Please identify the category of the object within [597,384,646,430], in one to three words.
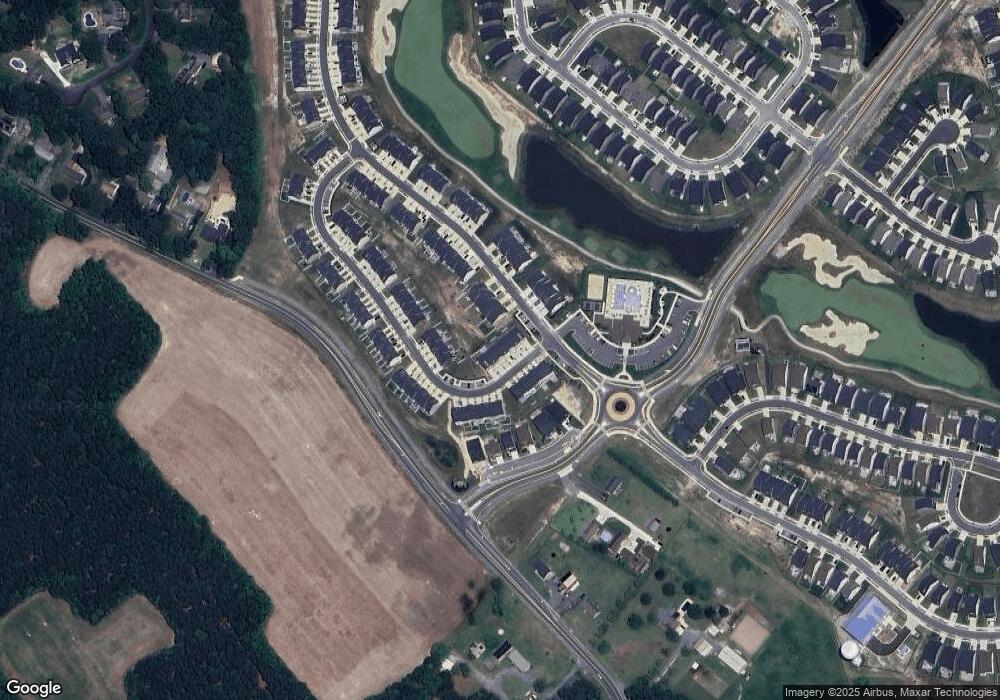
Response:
roundabout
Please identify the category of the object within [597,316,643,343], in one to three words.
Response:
building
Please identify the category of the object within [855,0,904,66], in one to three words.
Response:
pond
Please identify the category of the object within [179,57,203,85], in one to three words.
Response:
house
